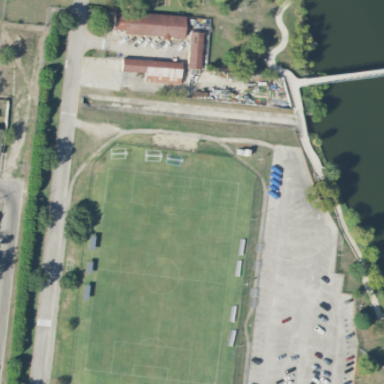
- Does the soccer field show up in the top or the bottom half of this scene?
bottom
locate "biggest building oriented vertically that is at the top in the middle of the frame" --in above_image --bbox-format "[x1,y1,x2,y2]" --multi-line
[190,30,204,69]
